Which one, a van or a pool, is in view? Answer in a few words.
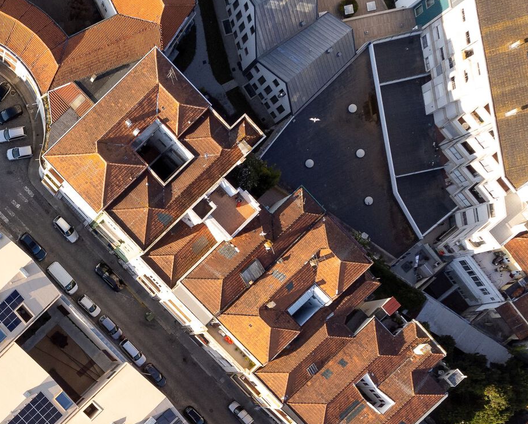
van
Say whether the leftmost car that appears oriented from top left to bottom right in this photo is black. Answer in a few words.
Yes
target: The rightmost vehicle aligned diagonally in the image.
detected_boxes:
[224,397,256,424]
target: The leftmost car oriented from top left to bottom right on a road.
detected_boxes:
[18,230,47,264]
